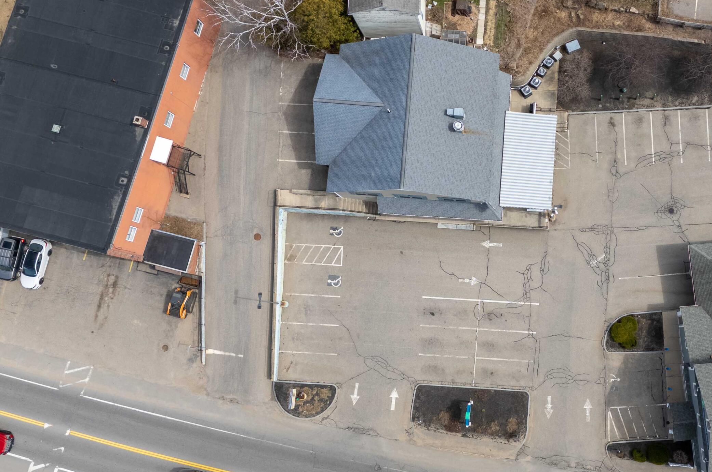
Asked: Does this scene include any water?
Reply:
No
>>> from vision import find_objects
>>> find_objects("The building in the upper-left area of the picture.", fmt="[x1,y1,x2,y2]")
[0,0,215,255]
